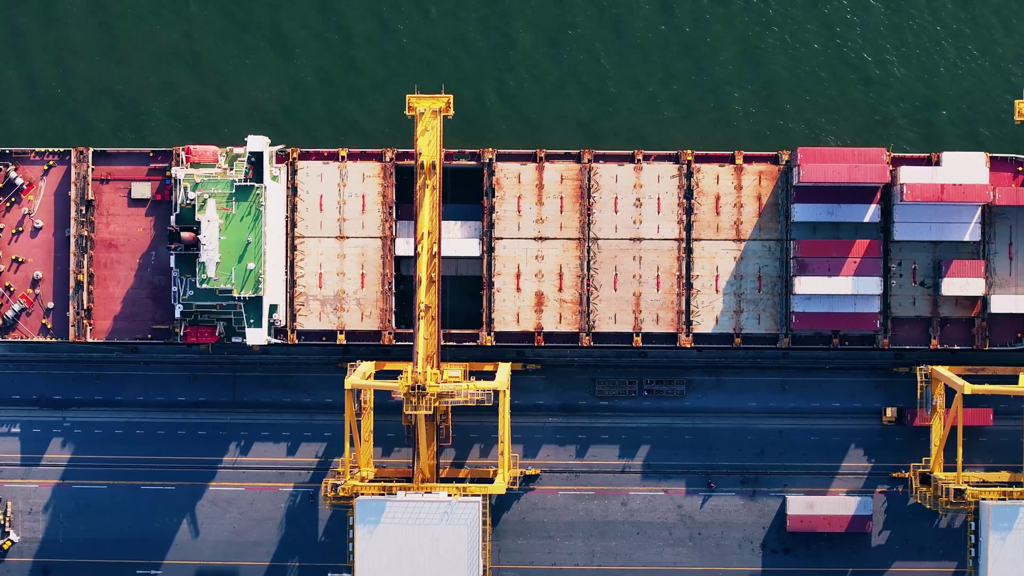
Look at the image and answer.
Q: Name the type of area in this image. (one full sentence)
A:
What you see here is a port.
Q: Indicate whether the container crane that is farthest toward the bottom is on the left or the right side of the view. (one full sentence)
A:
It is on the right.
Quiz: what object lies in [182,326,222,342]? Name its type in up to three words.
boat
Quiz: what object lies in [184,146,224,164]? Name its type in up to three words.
boat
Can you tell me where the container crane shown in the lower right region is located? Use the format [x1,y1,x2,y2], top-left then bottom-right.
[891,366,1024,576]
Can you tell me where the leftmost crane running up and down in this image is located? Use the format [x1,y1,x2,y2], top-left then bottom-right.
[322,84,541,576]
